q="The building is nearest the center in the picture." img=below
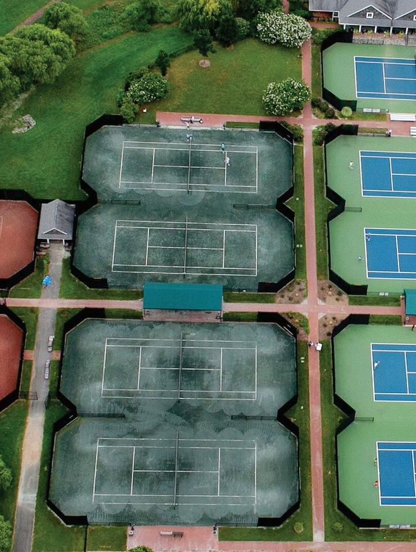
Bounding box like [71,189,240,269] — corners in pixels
[144,282,222,317]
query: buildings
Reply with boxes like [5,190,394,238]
[308,0,416,35]
[403,288,416,322]
[144,282,222,317]
[37,197,77,249]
